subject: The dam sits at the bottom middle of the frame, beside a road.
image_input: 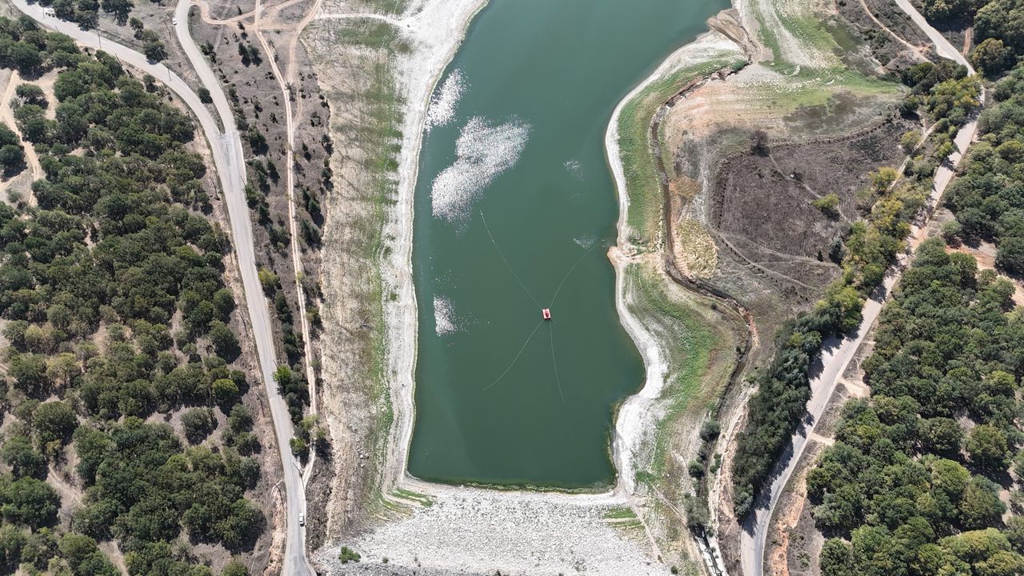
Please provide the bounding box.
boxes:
[315,484,667,576]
